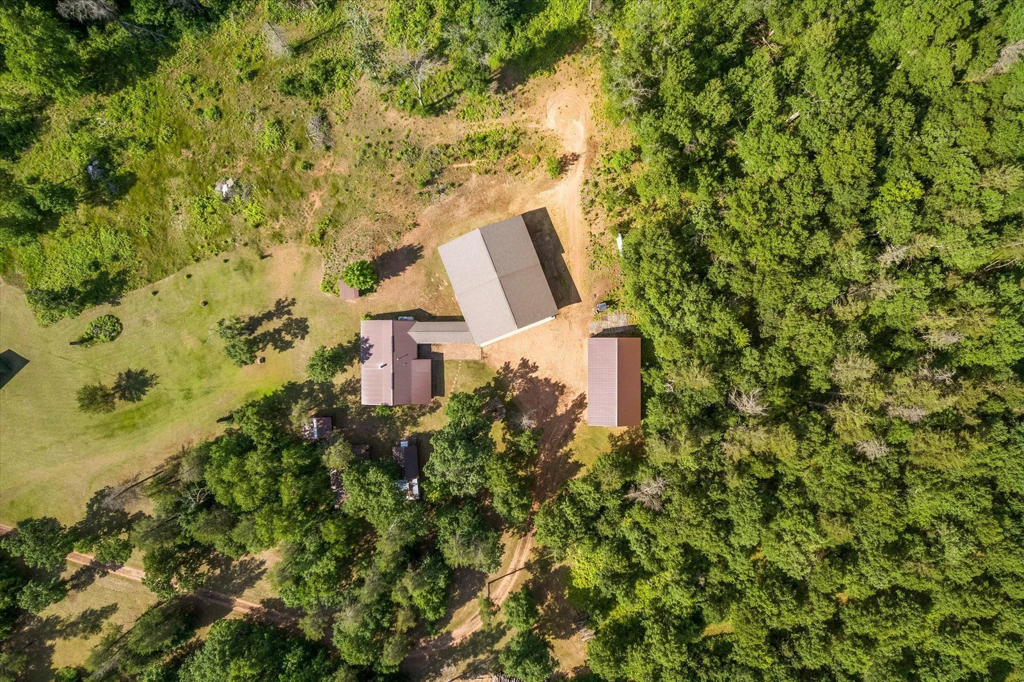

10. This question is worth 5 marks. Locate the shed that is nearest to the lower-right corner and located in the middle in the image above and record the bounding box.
[587,337,641,427]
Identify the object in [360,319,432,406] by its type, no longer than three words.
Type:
house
